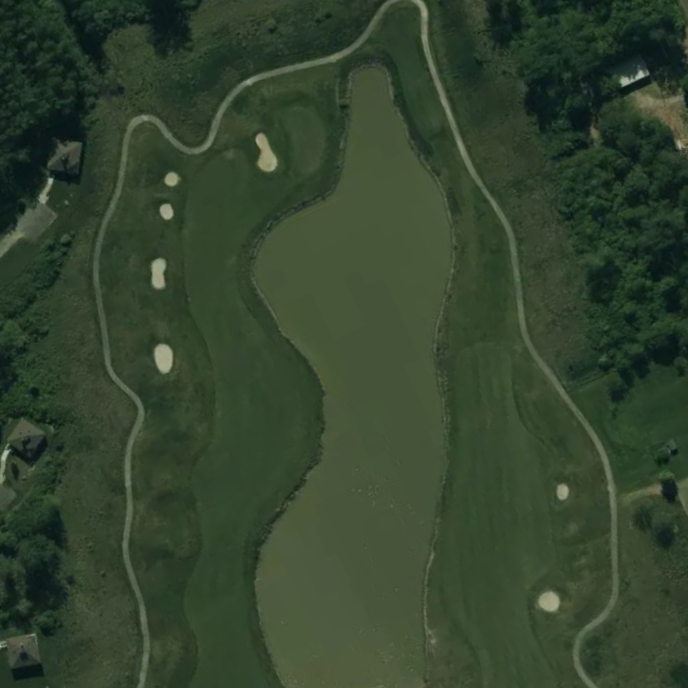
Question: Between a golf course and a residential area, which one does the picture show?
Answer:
golf course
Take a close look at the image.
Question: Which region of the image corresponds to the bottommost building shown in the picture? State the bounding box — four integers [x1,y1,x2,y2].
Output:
[6,632,41,669]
